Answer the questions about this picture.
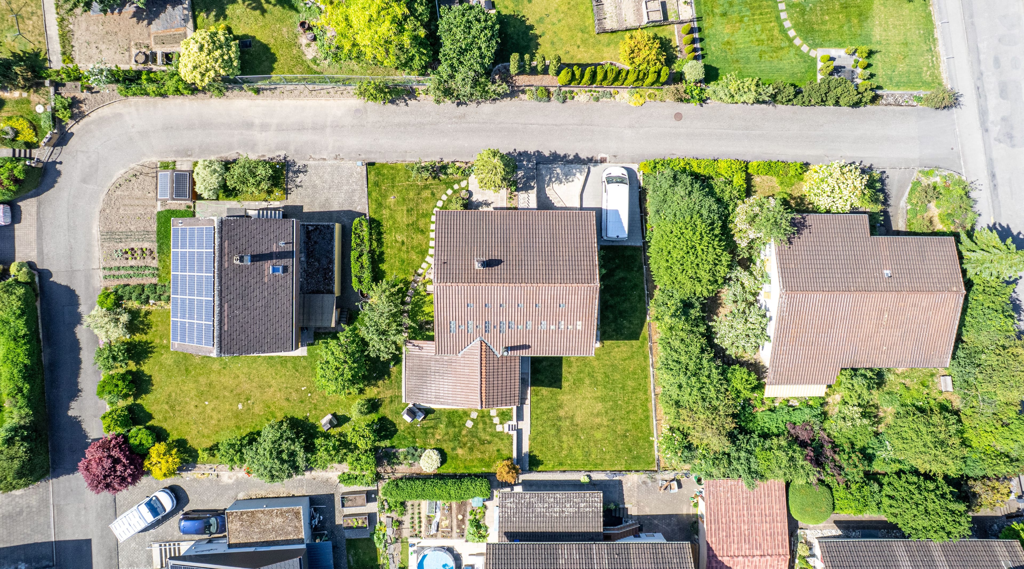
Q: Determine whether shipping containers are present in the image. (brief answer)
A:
No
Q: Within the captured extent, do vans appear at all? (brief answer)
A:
Yes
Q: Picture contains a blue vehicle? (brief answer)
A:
Yes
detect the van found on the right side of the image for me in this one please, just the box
[600,169,629,241]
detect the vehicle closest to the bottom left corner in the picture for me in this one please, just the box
[108,489,180,545]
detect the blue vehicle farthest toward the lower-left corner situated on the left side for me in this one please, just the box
[177,512,227,538]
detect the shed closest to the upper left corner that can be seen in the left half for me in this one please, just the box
[157,169,202,201]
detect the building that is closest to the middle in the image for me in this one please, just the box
[402,209,600,410]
